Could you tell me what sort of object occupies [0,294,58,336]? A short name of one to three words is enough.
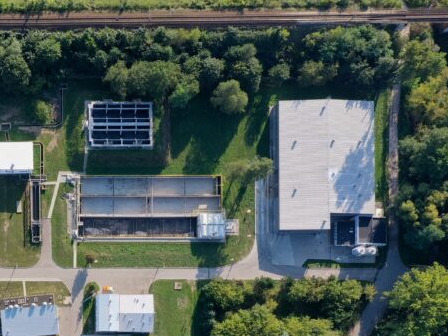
building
